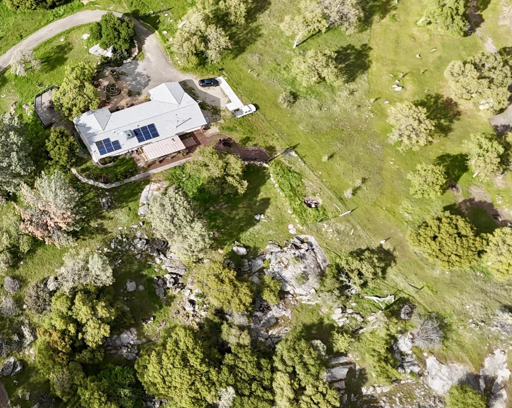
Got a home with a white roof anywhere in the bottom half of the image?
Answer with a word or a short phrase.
No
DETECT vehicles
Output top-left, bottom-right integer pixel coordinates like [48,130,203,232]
[198,78,220,88]
[231,106,257,120]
